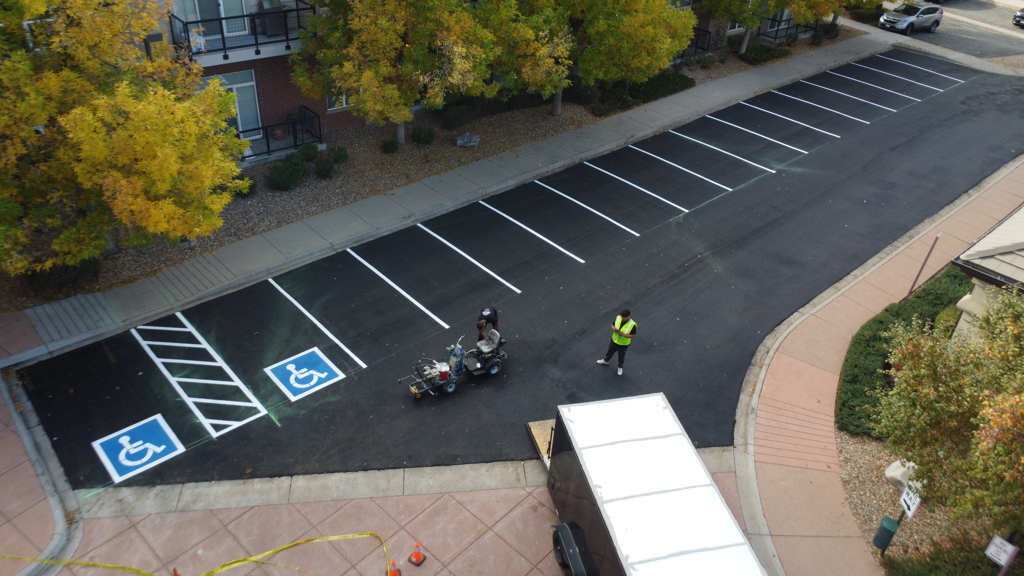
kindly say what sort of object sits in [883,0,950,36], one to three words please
car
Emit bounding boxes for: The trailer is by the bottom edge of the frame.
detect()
[524,392,767,576]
